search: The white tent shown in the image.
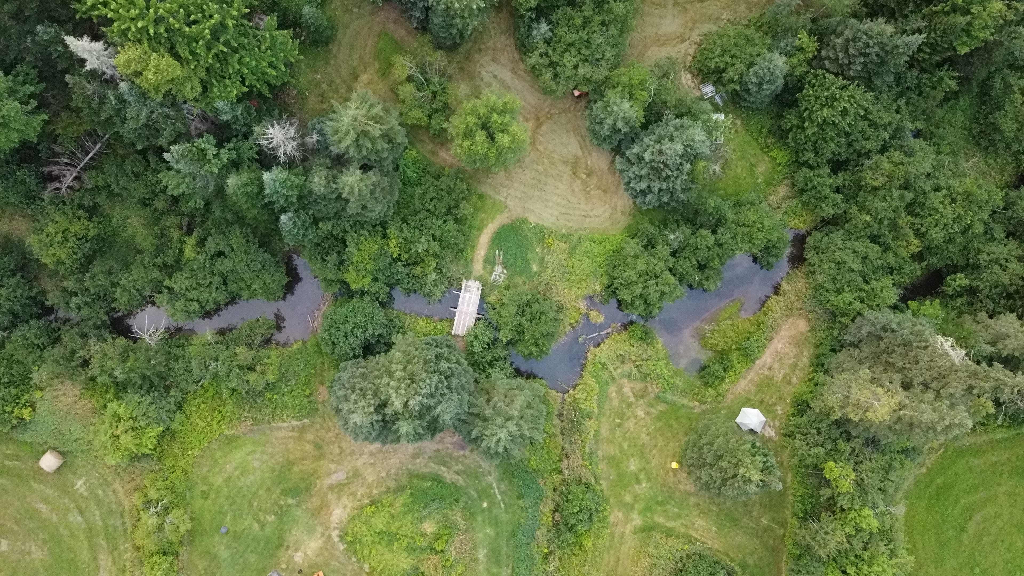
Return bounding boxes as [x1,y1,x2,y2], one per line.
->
[729,404,766,434]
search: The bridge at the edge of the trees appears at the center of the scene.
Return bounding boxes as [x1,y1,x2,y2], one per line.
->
[448,277,485,340]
